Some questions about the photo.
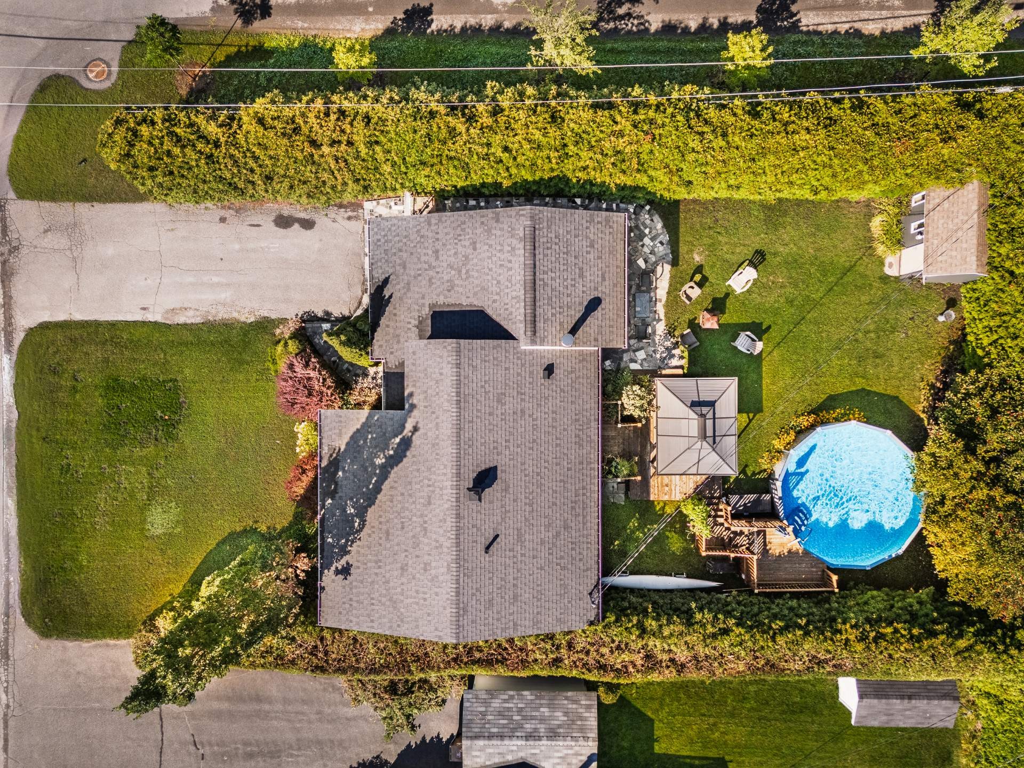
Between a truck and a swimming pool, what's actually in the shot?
swimming pool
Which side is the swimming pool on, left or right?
right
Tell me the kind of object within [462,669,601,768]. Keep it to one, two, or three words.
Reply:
house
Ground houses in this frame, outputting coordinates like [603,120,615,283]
[314,206,631,644]
[462,669,601,768]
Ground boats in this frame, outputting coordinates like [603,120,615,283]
[605,573,723,590]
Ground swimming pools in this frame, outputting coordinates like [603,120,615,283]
[766,420,925,568]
